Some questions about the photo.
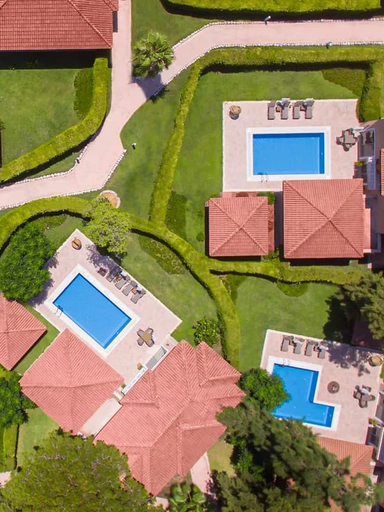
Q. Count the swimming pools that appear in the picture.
3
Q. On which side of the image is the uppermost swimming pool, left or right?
right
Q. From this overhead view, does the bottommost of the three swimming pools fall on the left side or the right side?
right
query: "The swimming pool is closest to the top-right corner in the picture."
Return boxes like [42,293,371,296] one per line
[247,127,330,181]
